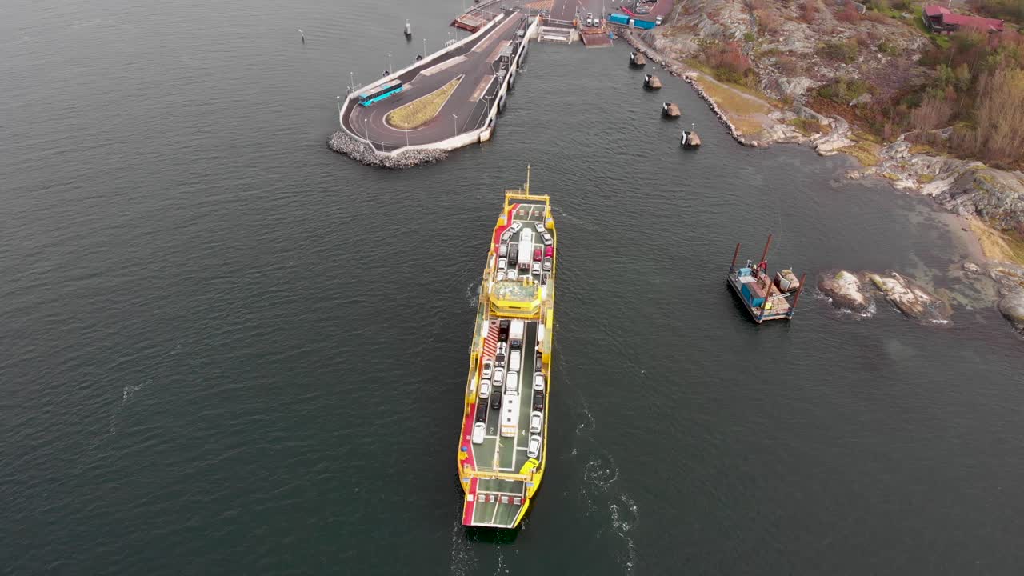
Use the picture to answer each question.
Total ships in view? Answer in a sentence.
The photo contains 2 ships.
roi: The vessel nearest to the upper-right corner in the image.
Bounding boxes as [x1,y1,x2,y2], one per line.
[725,233,823,326]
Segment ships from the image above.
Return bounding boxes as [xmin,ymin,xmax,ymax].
[725,233,823,326]
[456,164,556,530]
